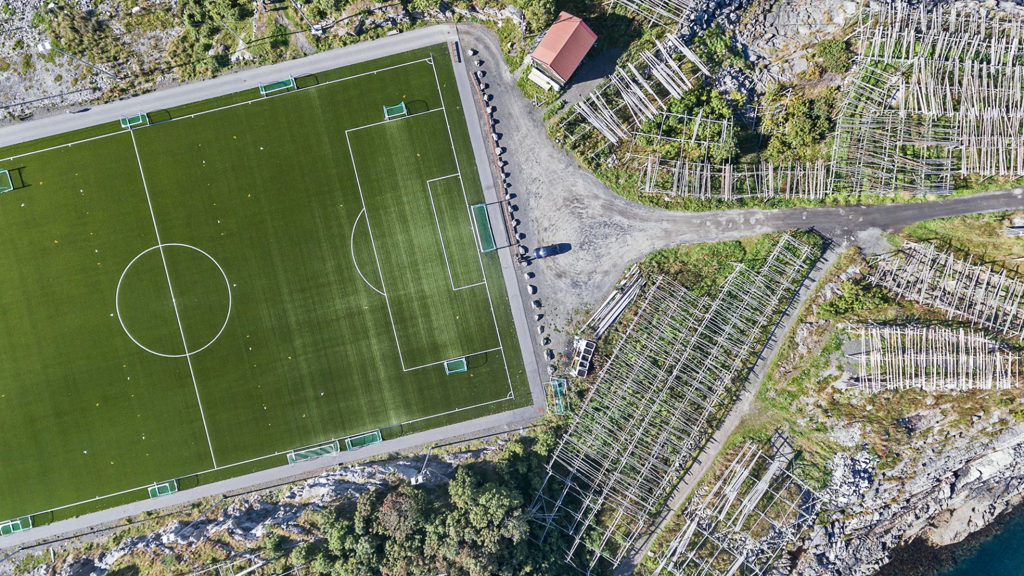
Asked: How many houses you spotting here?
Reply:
1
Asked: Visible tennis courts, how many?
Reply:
zero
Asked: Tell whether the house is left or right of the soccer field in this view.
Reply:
to its right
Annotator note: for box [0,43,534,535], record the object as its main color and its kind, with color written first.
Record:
green soccer field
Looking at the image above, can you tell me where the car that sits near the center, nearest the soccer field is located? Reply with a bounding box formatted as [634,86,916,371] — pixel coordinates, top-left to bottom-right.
[533,243,561,257]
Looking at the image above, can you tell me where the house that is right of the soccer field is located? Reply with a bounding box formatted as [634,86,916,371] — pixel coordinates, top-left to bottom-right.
[530,12,597,84]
